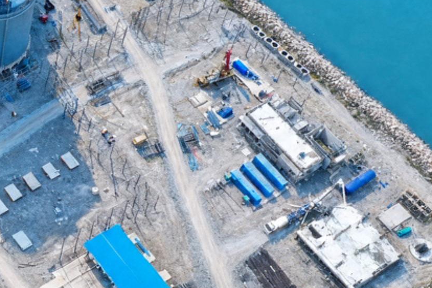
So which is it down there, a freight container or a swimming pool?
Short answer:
freight container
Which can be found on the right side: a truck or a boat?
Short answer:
truck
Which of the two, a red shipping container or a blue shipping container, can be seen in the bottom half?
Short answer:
blue shipping container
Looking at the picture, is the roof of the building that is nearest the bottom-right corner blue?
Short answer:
No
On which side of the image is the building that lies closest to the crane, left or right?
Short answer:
right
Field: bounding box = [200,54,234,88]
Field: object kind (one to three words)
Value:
crane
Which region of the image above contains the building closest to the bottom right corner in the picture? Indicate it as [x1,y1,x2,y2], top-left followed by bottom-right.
[291,202,405,288]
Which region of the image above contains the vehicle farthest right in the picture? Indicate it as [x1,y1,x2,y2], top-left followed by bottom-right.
[286,180,346,225]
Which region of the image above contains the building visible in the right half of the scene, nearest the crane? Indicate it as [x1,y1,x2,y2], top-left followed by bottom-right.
[235,98,354,182]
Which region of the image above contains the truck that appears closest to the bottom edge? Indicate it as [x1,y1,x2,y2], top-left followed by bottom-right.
[261,214,295,236]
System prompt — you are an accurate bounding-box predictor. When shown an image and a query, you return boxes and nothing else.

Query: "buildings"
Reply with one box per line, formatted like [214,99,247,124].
[291,202,405,288]
[82,224,169,288]
[235,98,354,182]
